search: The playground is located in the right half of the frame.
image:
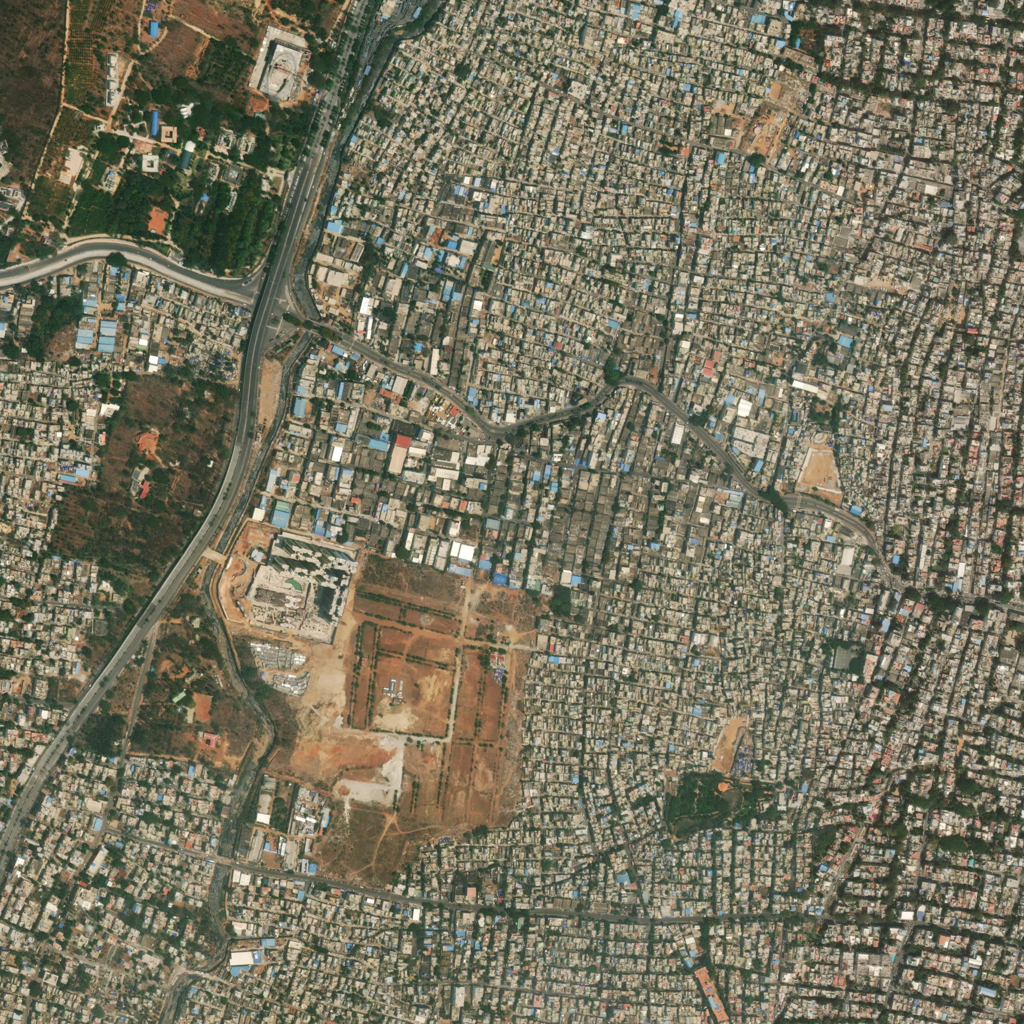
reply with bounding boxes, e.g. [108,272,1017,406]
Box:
[795,433,844,508]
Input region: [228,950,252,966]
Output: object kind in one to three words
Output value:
shed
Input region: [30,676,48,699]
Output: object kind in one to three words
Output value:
building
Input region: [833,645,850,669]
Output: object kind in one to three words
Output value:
building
